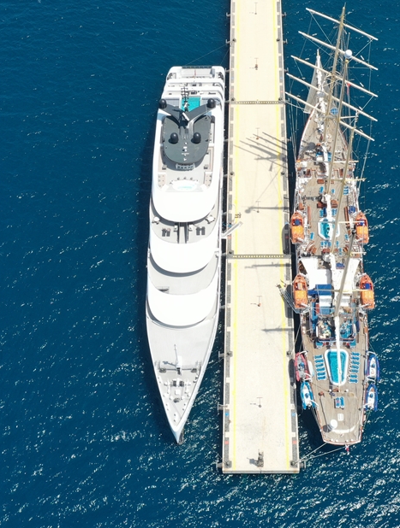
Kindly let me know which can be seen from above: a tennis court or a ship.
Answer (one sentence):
Visible in the photo is a ship.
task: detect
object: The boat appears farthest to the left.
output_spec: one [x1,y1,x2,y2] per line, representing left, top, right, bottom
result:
[145,64,225,442]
